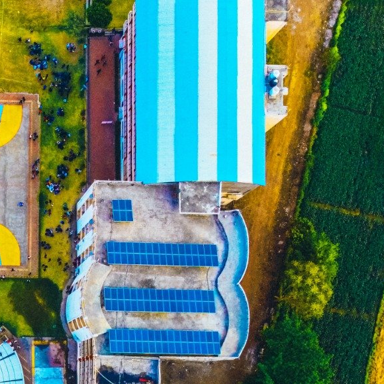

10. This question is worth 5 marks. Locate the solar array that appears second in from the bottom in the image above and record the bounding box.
[104,288,215,313]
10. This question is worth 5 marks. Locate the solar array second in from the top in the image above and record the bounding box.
[107,241,218,266]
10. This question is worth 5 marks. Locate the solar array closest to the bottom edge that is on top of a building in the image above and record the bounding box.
[109,328,220,354]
